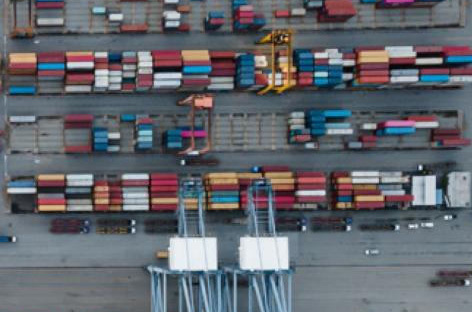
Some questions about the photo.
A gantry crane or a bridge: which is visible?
gantry crane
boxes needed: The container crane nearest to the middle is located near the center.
[175,95,214,156]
